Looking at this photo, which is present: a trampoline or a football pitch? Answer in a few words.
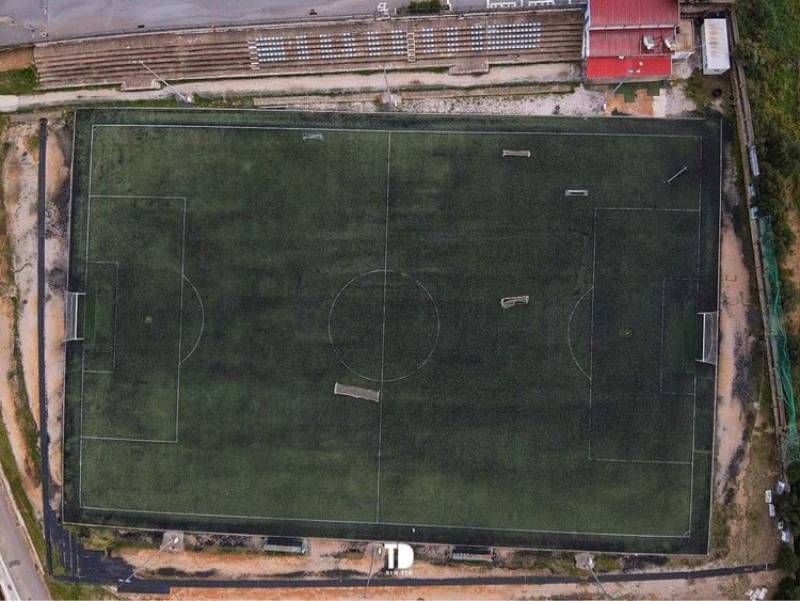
football pitch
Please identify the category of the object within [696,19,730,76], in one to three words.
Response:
building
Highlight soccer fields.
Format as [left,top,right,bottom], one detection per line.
[61,108,723,555]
